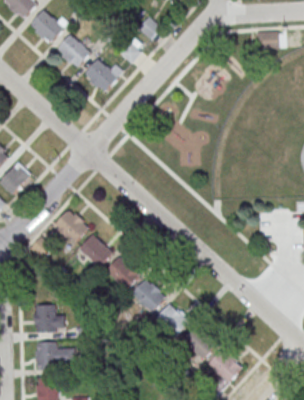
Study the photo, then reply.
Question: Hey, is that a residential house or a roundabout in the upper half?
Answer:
residential house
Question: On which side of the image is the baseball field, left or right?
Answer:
right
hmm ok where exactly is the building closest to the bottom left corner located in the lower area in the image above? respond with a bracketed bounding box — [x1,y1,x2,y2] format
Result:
[38,379,60,400]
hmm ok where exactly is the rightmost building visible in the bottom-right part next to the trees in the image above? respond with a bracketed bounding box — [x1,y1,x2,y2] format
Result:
[210,355,242,391]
